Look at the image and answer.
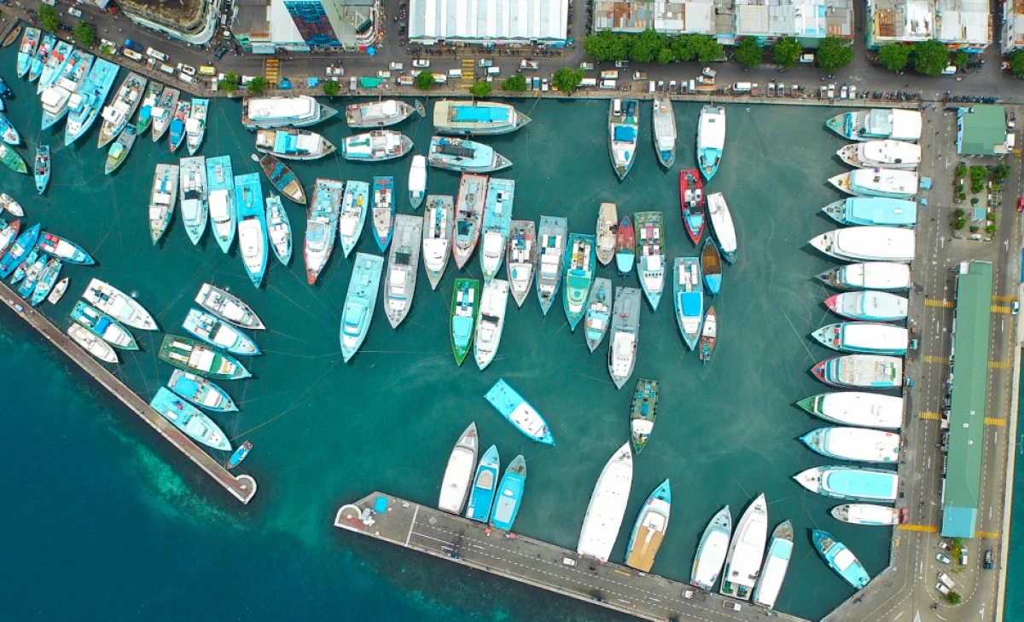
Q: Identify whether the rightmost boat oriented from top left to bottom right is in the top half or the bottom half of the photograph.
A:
bottom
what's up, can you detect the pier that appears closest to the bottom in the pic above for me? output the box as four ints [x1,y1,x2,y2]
[332,491,809,622]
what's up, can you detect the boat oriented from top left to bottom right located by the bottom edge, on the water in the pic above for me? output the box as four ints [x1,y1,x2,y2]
[814,531,871,592]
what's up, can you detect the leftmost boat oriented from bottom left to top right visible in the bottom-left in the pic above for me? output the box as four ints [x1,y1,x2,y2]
[226,440,254,470]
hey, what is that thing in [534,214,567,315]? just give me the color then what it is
white boat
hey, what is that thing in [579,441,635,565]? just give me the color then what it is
white ship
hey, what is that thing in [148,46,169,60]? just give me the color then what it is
white vehicle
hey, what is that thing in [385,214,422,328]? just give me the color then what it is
white vessel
